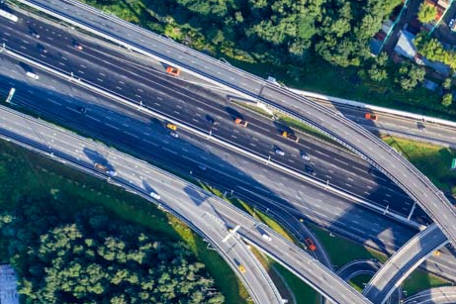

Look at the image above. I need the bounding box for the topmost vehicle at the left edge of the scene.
[0,7,22,21]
